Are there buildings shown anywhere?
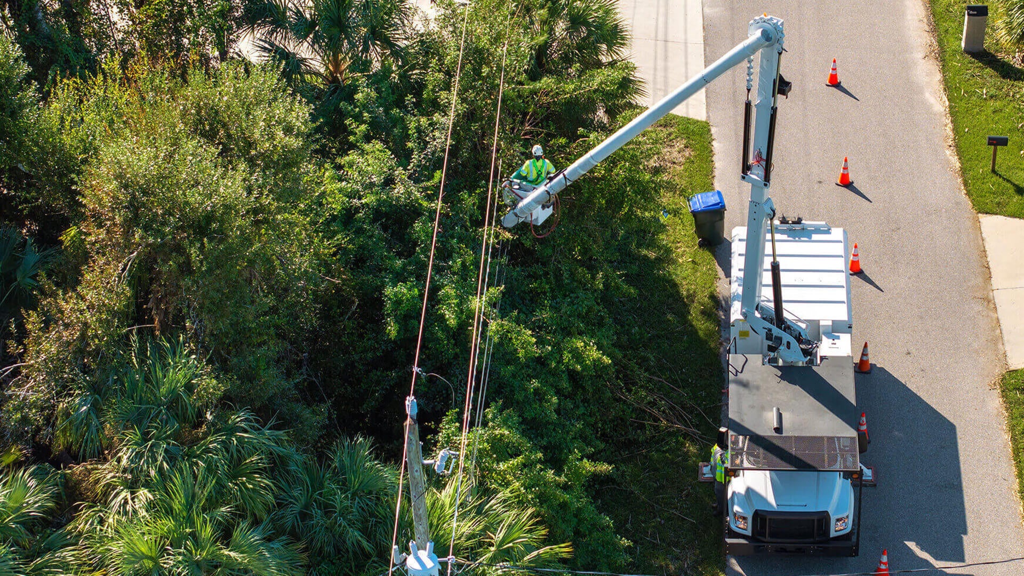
No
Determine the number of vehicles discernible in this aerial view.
1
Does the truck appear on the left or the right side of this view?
right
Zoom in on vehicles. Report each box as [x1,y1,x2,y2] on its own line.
[500,15,880,566]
